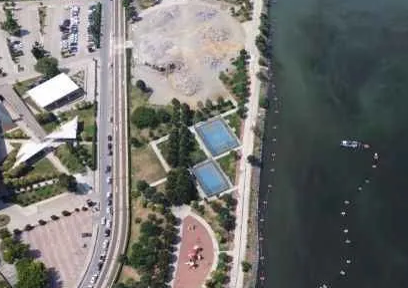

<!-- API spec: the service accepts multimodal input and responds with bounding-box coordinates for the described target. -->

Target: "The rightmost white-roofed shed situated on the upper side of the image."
[27,73,82,111]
